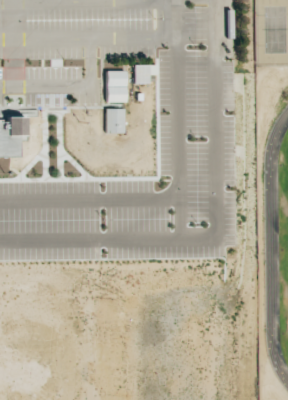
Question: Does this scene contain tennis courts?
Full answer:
Yes, this view includes a tennis court.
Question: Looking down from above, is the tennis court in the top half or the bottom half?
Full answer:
Seen from above, the tennis court lies in the top half of the view.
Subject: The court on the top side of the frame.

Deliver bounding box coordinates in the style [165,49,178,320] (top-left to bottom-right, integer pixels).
[263,8,288,53]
